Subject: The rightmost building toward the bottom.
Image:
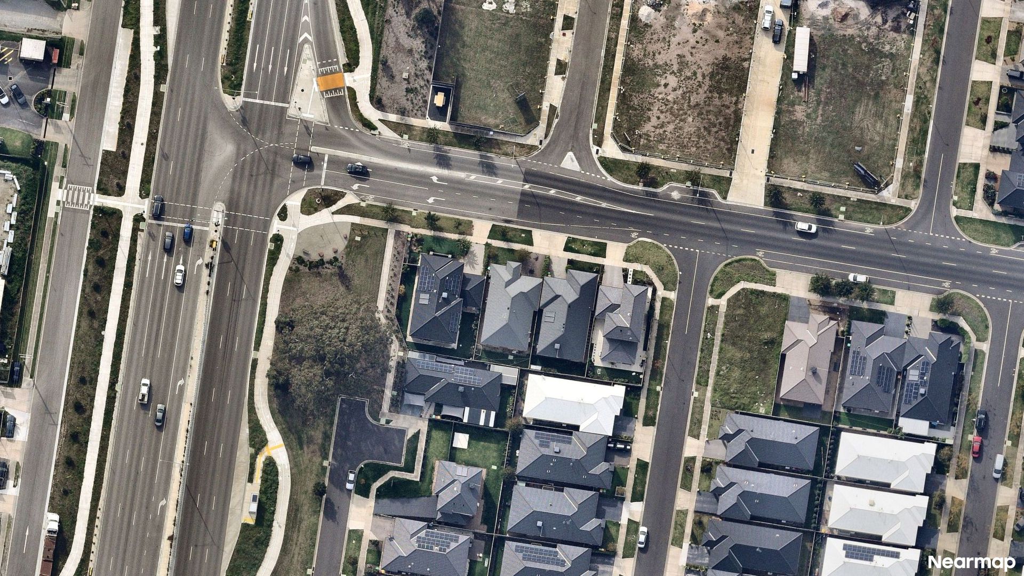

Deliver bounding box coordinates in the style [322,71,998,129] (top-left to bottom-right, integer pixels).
[897,332,961,436]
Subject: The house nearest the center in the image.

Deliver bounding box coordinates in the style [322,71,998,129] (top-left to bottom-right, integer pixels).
[481,260,543,351]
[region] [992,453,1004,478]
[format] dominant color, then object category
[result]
white vehicle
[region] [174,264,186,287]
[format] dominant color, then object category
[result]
white vehicle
